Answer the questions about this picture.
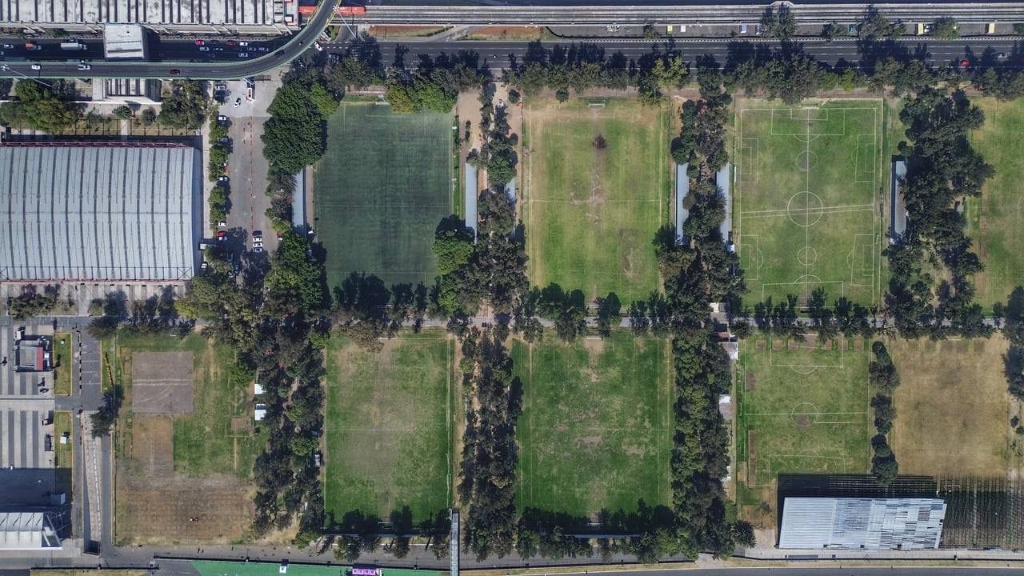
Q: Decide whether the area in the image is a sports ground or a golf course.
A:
sports ground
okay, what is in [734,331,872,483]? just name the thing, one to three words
soccer field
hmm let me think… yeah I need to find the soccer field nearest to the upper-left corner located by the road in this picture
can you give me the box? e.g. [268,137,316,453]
[314,96,454,291]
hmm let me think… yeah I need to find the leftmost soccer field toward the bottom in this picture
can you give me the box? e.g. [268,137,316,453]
[323,331,458,528]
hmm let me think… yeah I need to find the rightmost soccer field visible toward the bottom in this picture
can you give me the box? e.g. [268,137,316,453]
[888,331,1011,483]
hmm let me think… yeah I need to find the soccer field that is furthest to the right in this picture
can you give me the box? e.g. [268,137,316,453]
[966,94,1024,314]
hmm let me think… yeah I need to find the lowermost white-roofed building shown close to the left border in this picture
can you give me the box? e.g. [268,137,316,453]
[0,502,71,550]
